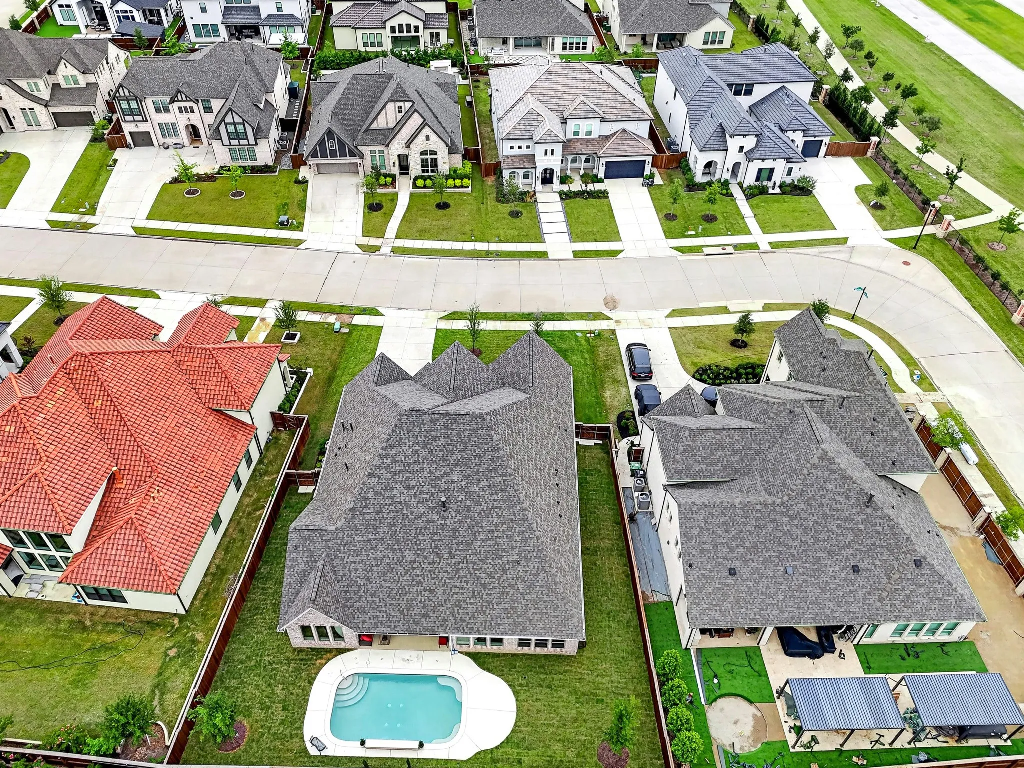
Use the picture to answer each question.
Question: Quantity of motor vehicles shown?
three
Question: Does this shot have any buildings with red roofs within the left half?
Yes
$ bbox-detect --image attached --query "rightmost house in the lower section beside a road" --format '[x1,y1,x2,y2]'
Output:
[641,308,989,656]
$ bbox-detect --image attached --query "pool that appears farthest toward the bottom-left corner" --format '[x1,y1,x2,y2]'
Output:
[304,652,517,760]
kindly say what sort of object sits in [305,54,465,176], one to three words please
house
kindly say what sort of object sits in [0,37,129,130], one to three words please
house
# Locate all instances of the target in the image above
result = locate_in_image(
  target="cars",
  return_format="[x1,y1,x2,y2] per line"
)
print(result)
[695,380,724,405]
[634,392,663,435]
[625,344,657,386]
